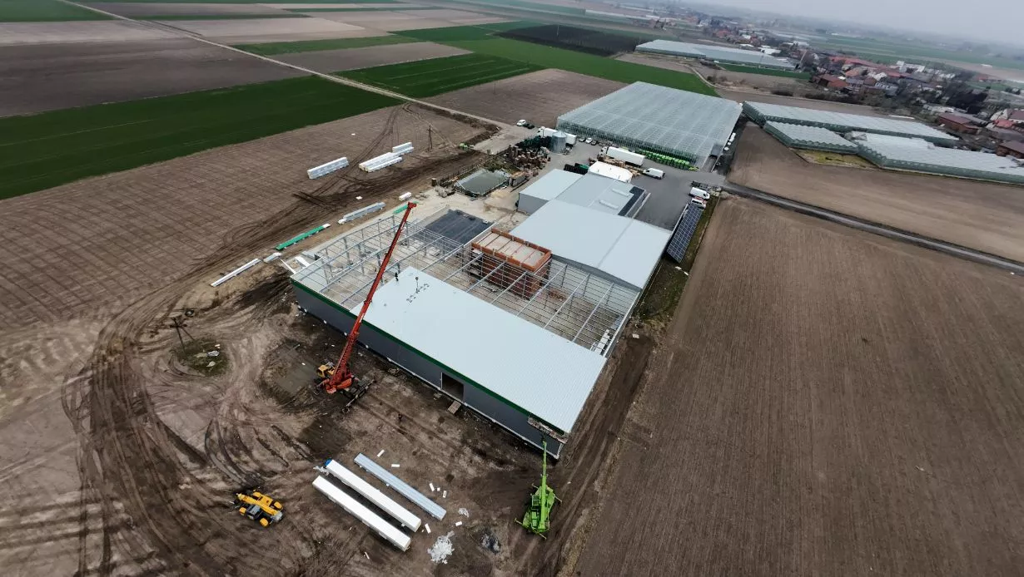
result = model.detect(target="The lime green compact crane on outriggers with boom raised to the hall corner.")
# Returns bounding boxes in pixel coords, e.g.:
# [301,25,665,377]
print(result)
[511,437,566,544]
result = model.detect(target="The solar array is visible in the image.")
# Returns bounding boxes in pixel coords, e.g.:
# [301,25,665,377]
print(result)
[663,201,705,265]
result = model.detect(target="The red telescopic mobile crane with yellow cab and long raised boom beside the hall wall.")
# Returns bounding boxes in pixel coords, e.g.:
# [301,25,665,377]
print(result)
[312,199,421,415]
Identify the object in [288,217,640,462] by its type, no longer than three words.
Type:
building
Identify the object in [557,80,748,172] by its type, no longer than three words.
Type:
greenhouse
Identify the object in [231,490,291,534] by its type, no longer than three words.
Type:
work vehicle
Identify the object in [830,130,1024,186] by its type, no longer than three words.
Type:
greenhouse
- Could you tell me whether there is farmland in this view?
Yes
